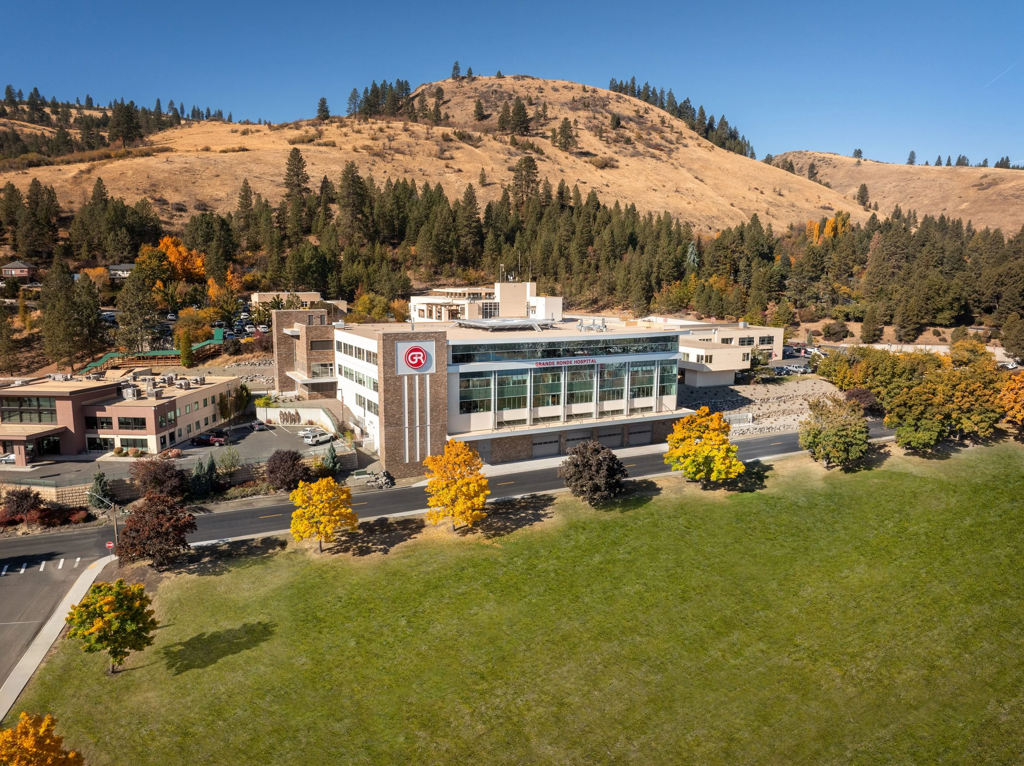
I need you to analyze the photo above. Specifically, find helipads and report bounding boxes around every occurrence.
[438,318,592,337]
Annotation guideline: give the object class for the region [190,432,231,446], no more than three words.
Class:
vehicle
